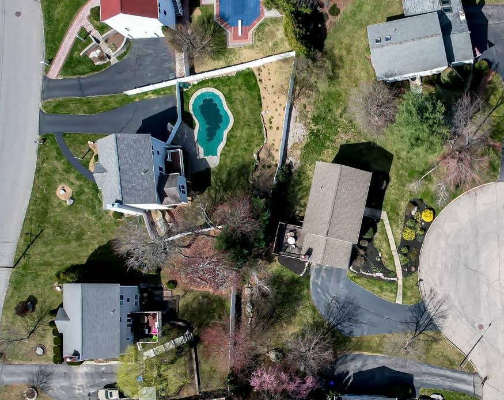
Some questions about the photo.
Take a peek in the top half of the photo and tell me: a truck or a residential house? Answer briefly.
residential house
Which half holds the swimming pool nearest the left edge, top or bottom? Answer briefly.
top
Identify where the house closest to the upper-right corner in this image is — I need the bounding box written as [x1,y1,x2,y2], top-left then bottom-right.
[366,0,473,90]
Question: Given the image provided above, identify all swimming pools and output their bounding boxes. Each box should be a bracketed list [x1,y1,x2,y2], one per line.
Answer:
[189,87,234,159]
[214,0,265,43]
